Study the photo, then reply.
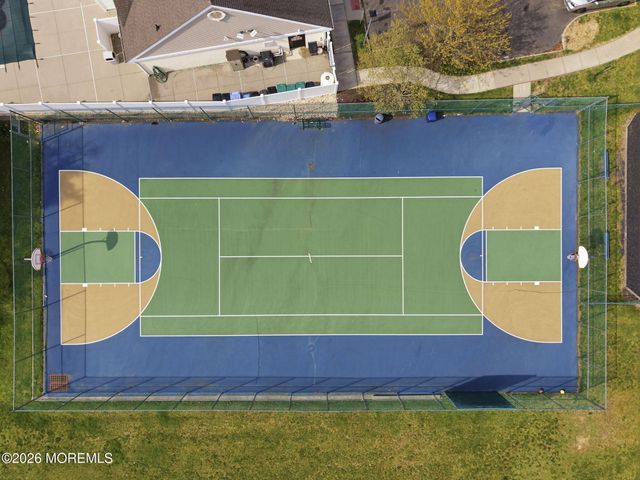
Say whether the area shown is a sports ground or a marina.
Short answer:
sports ground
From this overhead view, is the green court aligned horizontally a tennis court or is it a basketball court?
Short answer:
tennis court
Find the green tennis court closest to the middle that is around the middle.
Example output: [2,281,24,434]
[139,176,484,338]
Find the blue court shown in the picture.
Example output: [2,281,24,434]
[42,112,579,393]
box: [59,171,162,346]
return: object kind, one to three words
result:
basketball court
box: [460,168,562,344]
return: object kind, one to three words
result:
basketball court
